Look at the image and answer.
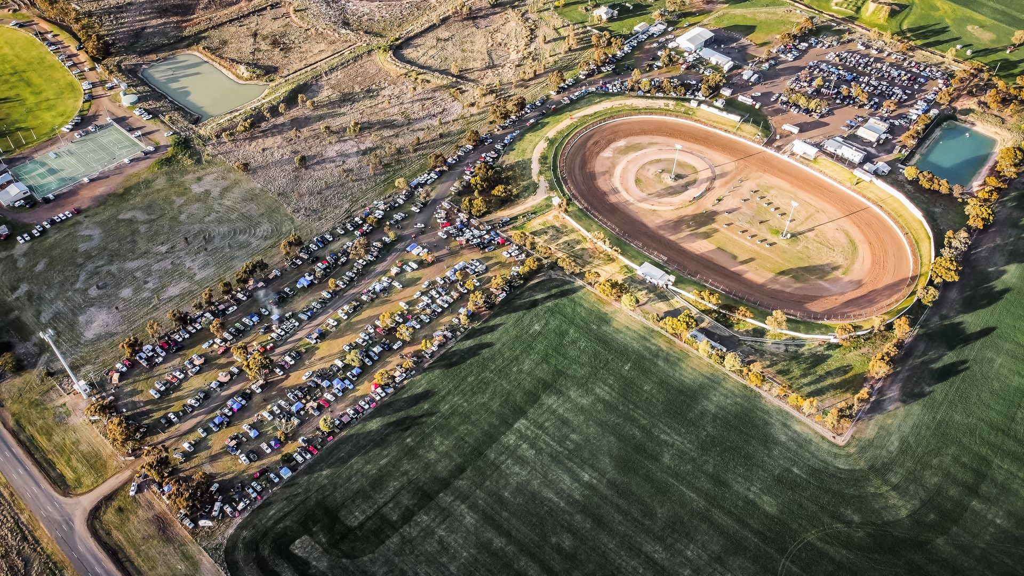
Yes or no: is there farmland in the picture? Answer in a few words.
Yes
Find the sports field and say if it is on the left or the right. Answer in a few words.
left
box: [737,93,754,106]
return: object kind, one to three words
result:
vehicle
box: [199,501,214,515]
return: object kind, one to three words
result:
vehicle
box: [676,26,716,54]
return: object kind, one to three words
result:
shed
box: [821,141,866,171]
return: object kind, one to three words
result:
building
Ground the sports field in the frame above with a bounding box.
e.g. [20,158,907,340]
[0,26,84,150]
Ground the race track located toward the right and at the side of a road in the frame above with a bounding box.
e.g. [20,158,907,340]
[566,115,913,314]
